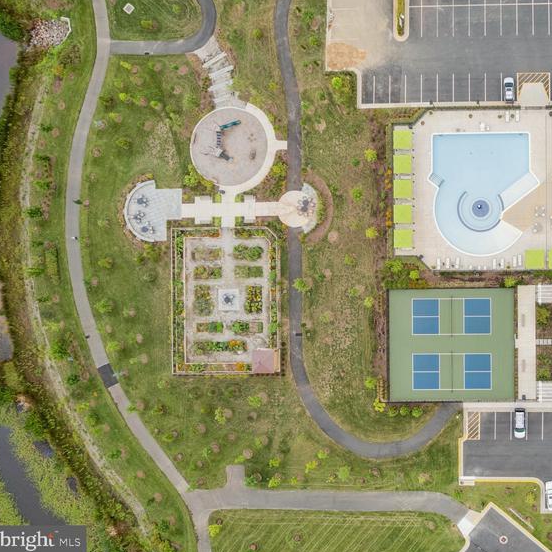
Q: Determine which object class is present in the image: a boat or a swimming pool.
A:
swimming pool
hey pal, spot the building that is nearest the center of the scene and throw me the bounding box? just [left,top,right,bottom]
[251,347,285,373]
